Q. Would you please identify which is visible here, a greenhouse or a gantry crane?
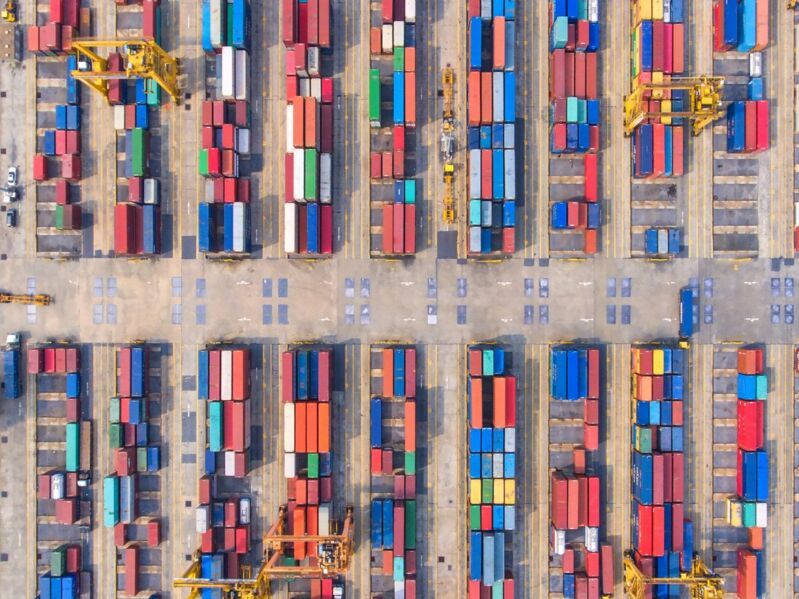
gantry crane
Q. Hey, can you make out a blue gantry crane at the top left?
No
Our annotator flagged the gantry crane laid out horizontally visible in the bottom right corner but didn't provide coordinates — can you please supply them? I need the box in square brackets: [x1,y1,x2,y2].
[624,548,728,599]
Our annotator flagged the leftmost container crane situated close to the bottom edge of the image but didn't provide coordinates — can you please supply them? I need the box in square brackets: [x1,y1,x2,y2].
[175,549,271,599]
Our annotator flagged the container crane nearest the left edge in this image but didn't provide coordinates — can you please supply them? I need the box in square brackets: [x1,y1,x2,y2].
[77,39,181,103]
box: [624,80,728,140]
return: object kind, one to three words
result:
container crane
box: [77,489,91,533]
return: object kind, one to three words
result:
vehicle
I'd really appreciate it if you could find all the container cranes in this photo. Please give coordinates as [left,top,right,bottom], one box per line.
[175,549,271,599]
[624,548,728,599]
[624,80,728,140]
[265,510,353,575]
[77,39,181,103]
